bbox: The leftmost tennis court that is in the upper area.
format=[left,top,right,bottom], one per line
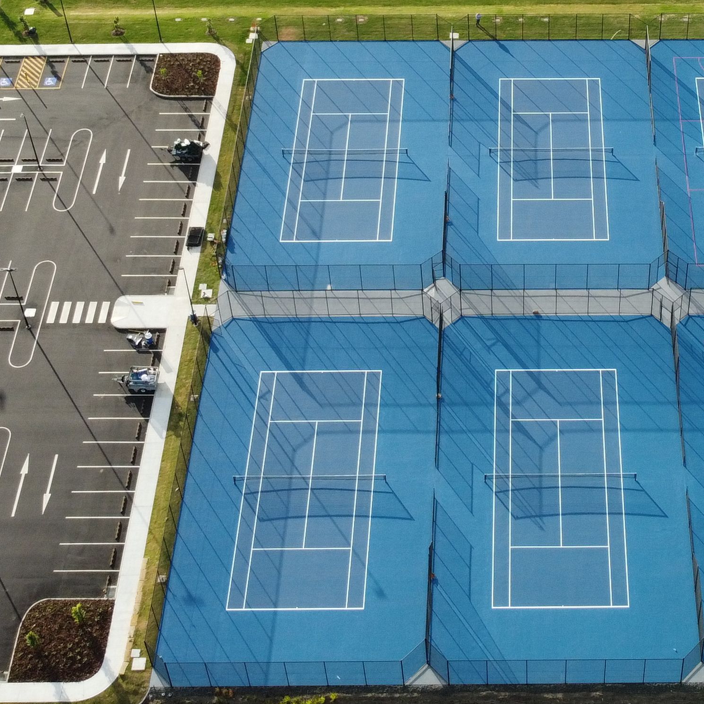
[222,39,452,291]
